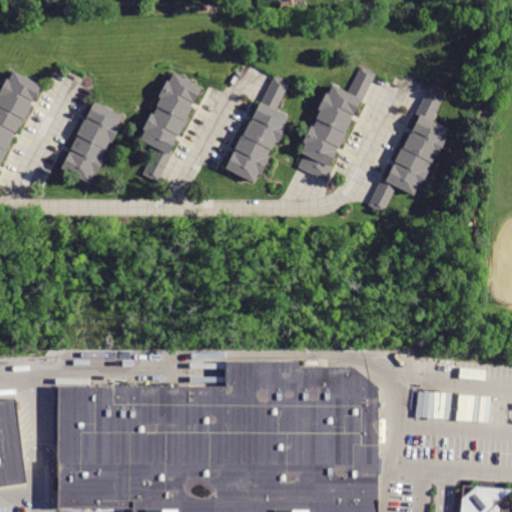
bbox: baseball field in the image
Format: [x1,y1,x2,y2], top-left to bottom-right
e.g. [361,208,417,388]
[486,88,512,311]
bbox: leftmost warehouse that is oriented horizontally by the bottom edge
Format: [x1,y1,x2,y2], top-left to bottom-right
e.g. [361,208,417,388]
[58,360,382,512]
